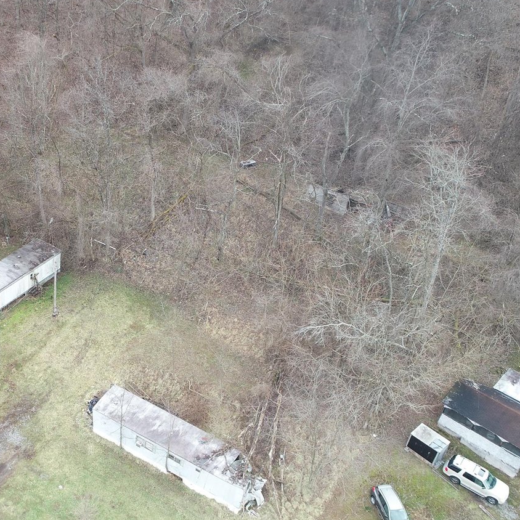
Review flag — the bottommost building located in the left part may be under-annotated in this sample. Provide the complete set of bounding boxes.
[92,386,257,515]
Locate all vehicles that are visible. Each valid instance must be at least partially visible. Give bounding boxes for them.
[372,483,411,520]
[445,459,510,506]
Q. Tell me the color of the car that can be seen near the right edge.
white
